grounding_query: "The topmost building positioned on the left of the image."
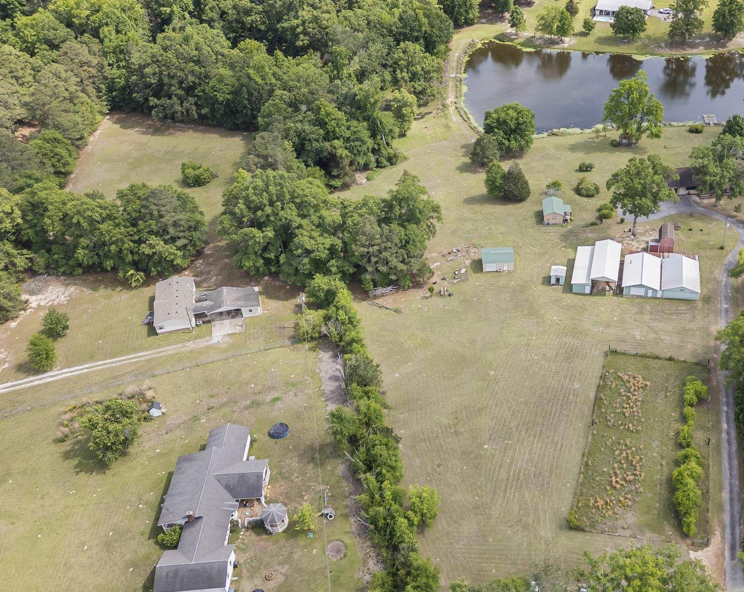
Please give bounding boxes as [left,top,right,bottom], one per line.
[137,277,258,336]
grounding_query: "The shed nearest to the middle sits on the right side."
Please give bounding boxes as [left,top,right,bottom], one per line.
[482,247,514,273]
